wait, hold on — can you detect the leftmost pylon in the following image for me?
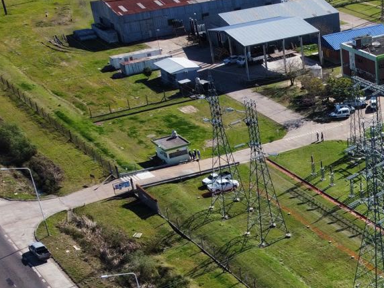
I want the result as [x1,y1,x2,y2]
[194,78,253,218]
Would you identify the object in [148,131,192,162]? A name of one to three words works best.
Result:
building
